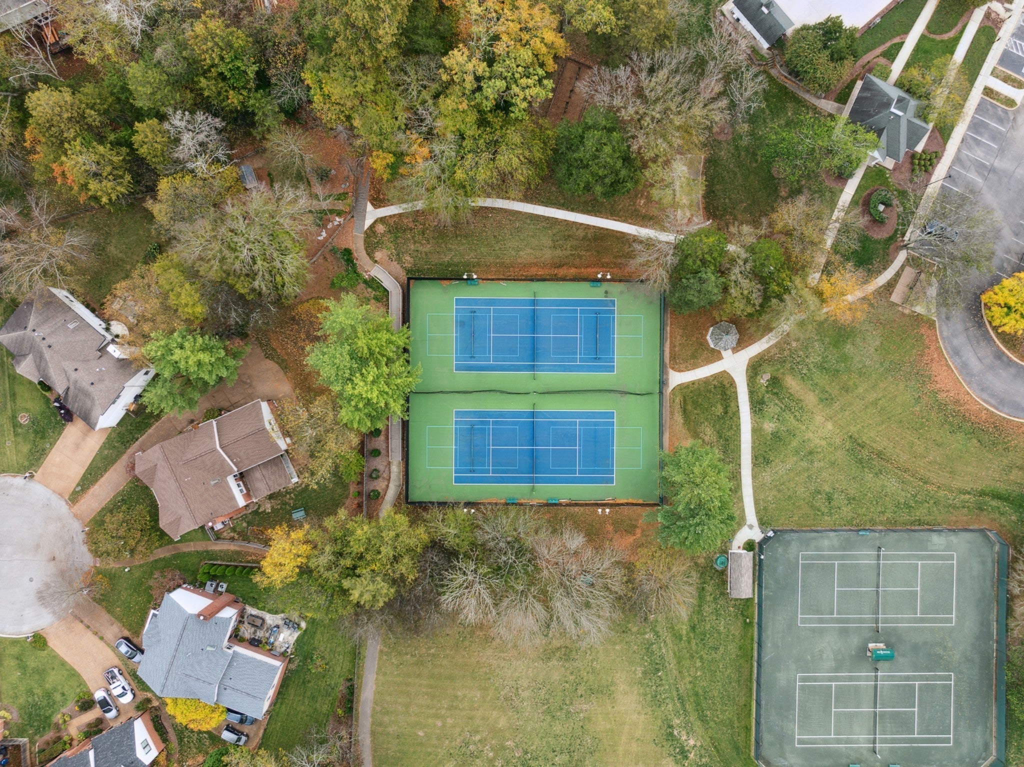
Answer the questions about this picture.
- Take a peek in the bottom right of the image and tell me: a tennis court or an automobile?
tennis court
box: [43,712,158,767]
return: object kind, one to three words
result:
house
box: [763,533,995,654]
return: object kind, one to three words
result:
tennis court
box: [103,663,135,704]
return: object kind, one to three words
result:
truck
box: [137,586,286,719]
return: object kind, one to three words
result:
house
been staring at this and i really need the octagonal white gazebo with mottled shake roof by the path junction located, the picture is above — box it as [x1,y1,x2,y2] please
[704,320,740,353]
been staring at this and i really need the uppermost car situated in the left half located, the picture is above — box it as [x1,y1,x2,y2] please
[114,636,145,666]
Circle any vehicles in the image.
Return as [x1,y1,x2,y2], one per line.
[223,707,258,728]
[94,687,120,720]
[217,723,251,745]
[103,663,135,704]
[114,636,145,666]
